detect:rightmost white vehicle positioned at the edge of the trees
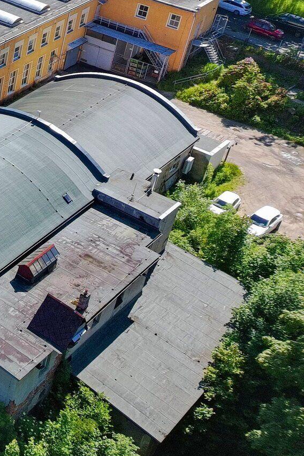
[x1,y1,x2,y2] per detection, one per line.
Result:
[233,198,291,237]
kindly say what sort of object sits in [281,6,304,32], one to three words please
truck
